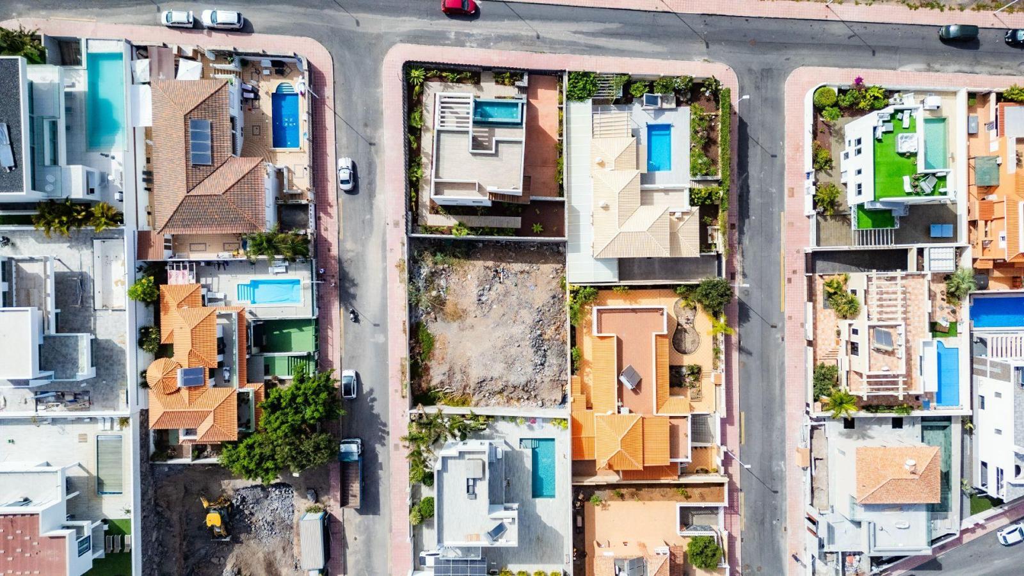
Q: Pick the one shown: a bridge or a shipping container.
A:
shipping container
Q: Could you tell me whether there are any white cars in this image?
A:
Yes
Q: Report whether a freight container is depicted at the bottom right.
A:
No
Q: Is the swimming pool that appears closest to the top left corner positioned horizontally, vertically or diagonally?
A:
vertically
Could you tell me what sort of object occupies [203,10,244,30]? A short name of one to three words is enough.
car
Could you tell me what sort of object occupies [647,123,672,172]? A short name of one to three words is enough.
swimming pool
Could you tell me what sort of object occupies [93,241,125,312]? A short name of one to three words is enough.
swimming pool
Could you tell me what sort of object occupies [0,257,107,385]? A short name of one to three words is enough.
house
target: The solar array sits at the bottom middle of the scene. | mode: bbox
[434,550,488,576]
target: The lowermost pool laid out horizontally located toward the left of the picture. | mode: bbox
[234,276,304,307]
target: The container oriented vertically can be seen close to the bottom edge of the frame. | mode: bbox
[302,509,330,572]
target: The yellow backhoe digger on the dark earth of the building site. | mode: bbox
[195,489,234,545]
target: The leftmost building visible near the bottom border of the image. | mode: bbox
[0,457,108,576]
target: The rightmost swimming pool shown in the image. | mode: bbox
[970,295,1024,328]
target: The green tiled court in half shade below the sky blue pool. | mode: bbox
[260,319,317,353]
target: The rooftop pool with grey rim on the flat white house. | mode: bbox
[473,99,524,123]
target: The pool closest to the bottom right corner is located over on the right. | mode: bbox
[920,418,952,508]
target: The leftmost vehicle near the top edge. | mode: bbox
[162,10,195,28]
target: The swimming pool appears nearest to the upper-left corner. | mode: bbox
[85,50,126,152]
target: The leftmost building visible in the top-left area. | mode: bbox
[0,56,97,201]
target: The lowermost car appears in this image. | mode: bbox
[419,550,440,569]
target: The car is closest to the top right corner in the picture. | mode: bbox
[998,27,1024,47]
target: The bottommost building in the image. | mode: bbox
[593,537,684,576]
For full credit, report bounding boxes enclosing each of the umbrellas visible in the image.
[131,59,150,84]
[180,58,204,79]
